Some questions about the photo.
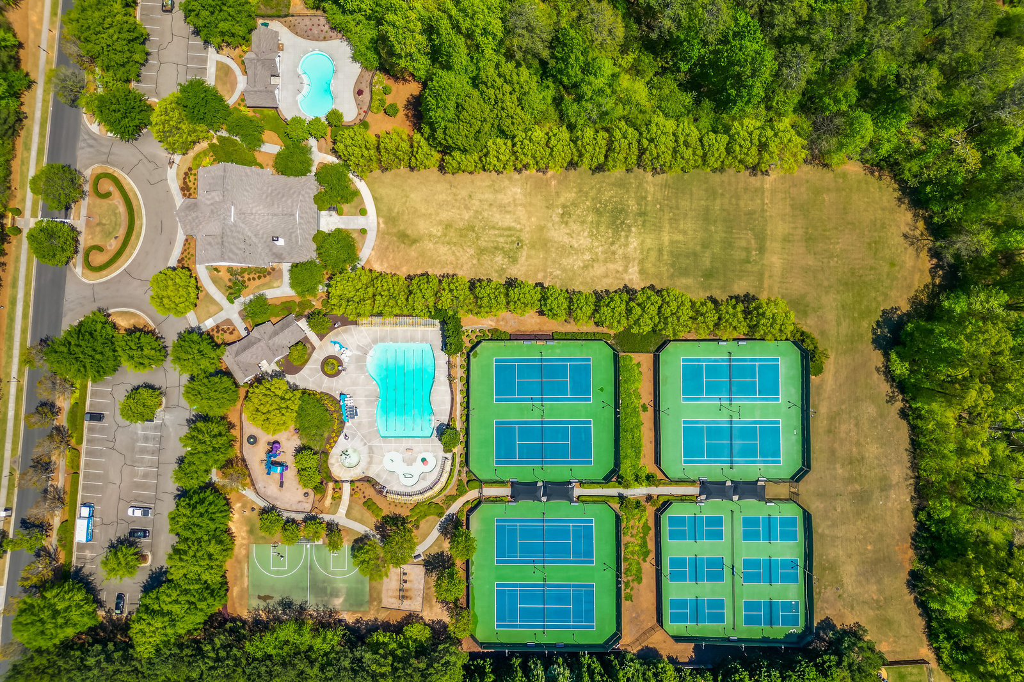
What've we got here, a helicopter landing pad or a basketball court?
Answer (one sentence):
This aerial view contains a basketball court.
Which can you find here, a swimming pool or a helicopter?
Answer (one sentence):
There is a swimming pool in the scene.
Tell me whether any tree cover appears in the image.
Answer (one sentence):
Yes, tree cover shows up in the scene.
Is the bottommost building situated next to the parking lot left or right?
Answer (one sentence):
You can find the bottommost building situated next to the parking lot on the left side of the picture.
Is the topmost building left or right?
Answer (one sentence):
The topmost building sits on the left side.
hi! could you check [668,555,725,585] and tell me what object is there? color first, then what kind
blue sports court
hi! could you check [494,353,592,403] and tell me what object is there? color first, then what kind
blue tennis court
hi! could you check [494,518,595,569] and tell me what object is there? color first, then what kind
blue tennis court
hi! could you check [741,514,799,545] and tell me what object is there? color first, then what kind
blue sports court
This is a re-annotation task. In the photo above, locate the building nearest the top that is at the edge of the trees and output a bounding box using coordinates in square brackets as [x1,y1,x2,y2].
[243,25,284,110]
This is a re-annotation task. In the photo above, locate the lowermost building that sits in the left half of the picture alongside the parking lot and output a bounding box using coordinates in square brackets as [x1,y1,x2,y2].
[222,313,308,385]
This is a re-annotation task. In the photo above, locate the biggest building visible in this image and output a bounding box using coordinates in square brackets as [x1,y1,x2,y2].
[175,162,321,268]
